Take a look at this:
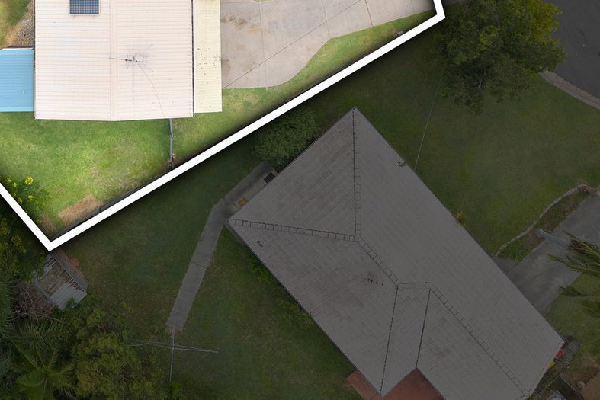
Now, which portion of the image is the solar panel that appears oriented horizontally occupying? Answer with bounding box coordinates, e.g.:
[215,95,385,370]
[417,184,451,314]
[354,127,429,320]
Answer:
[69,0,99,14]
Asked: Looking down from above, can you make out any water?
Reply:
No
